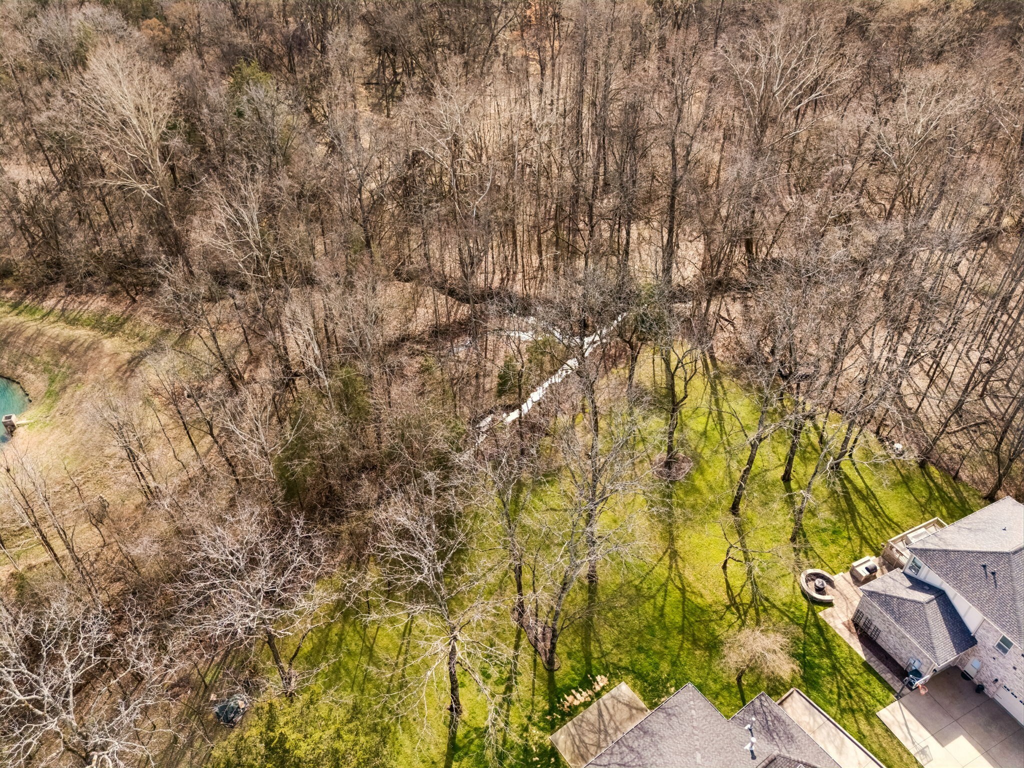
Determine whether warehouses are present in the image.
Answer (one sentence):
No, no warehouse is visible in the scene.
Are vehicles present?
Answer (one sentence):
No, the scene contains no vehicle.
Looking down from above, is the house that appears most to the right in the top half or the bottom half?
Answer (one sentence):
The bottom half of the photo is where the house that appears most to the right is.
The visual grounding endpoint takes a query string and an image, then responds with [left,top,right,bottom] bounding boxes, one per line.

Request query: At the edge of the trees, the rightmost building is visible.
[854,495,1024,727]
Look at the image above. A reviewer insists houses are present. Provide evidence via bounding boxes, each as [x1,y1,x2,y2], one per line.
[579,681,832,768]
[854,495,1024,727]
